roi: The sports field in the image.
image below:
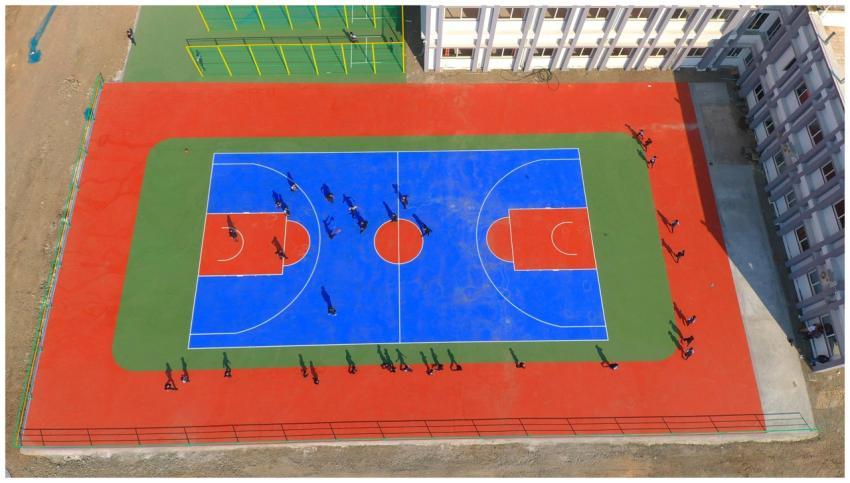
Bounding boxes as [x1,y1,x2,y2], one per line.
[123,0,409,84]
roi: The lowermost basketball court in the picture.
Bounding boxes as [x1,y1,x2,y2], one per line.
[22,83,766,447]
